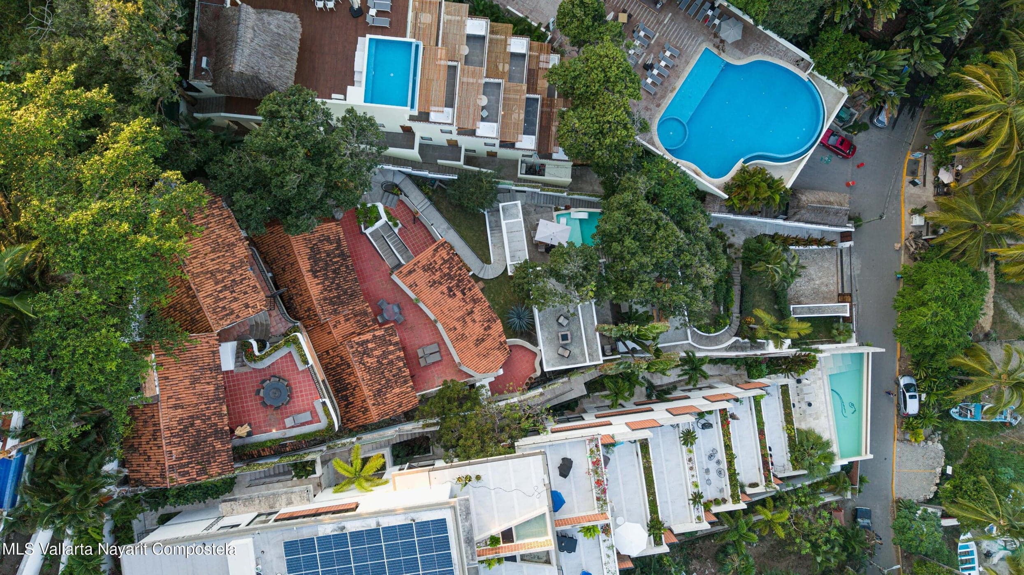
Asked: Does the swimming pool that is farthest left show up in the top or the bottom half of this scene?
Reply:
top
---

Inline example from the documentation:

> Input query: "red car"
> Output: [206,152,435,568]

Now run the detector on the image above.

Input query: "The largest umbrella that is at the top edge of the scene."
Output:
[718,17,745,44]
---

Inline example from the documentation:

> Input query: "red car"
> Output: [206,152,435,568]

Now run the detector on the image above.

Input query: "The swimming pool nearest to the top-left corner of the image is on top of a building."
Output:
[363,34,424,128]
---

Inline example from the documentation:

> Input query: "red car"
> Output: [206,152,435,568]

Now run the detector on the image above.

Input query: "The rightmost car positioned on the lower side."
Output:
[900,377,924,419]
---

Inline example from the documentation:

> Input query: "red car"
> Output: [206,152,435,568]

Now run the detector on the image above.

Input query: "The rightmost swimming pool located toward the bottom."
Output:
[803,342,885,487]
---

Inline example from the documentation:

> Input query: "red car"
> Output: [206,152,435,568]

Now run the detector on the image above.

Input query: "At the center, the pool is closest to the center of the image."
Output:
[552,208,609,260]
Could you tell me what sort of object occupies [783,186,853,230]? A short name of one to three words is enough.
shed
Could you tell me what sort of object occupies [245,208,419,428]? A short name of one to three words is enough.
house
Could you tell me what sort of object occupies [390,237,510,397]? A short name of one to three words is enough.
house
